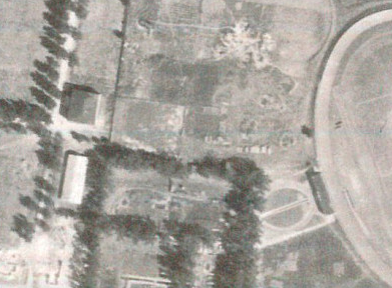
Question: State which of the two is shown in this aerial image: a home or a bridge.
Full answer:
This aerial view contains a home.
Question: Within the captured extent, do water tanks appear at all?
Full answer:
No, I can see no water tank in this picture.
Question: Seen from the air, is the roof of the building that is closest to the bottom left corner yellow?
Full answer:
No, the color of the roof of the building that is closest to the bottom left corner is white.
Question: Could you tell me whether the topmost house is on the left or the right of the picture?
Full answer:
The topmost house sits on the left side.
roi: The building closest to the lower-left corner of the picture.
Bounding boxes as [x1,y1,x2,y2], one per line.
[61,155,89,204]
